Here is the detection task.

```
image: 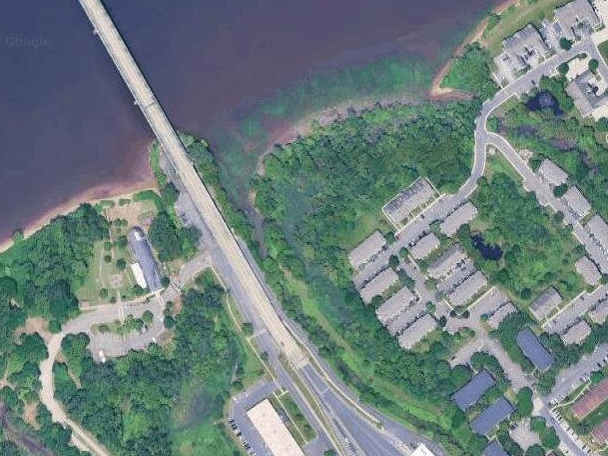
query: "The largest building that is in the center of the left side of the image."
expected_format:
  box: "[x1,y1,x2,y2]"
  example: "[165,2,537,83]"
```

[133,228,163,291]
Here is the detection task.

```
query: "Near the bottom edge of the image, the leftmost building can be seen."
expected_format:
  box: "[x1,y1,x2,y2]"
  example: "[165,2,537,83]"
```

[246,398,304,456]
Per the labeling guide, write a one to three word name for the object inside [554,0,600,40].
building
